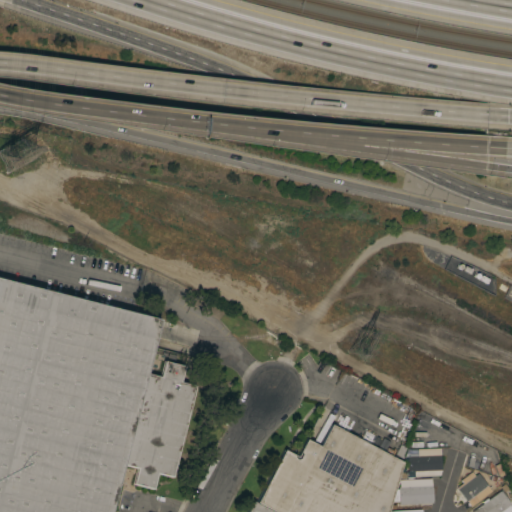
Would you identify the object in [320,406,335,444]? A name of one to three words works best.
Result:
vehicle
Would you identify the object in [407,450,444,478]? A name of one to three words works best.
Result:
building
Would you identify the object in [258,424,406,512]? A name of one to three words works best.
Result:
building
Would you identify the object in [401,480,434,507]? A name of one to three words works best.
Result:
shed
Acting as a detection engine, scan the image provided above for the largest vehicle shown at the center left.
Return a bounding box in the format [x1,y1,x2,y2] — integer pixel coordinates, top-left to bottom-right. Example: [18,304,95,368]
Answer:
[78,277,122,291]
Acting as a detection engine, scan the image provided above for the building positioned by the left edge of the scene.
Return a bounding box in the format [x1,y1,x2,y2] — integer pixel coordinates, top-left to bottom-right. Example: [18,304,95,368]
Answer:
[0,277,169,512]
